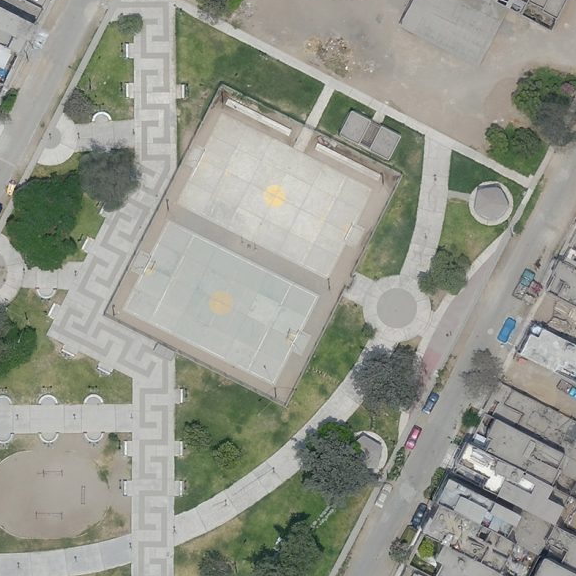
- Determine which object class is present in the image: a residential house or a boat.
residential house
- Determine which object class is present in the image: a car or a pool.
car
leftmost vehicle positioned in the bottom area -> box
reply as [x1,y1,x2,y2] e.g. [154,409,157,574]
[373,481,393,509]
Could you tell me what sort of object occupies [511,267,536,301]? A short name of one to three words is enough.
truck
